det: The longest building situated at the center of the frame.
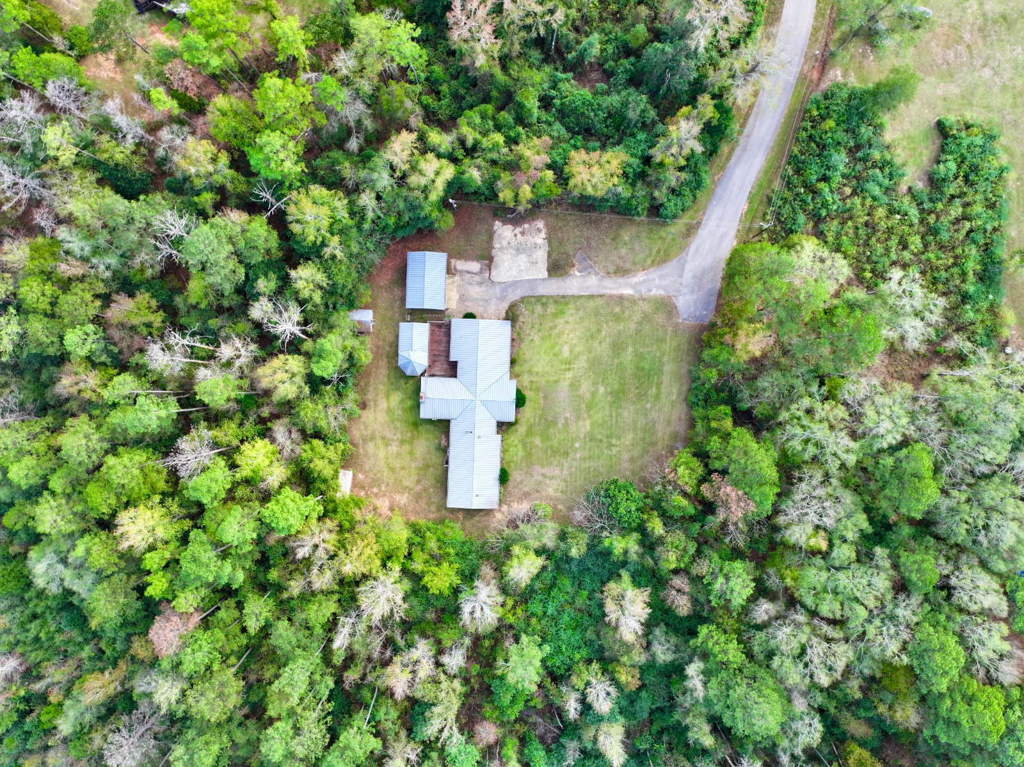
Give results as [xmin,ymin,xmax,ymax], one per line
[419,318,517,509]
